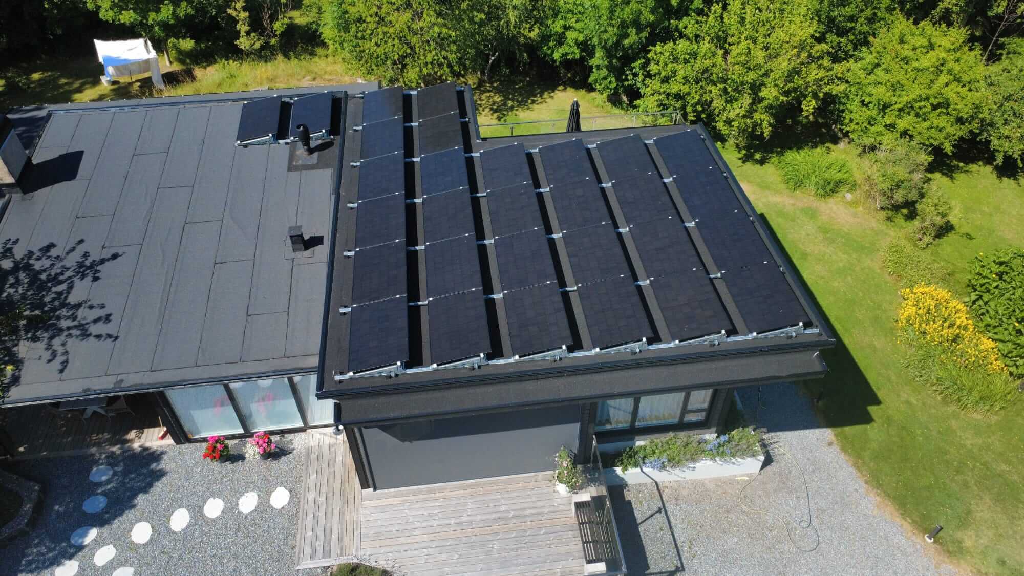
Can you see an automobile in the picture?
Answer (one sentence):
No, no automobile can be seen from above.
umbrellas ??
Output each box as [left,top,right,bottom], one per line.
[567,101,583,132]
